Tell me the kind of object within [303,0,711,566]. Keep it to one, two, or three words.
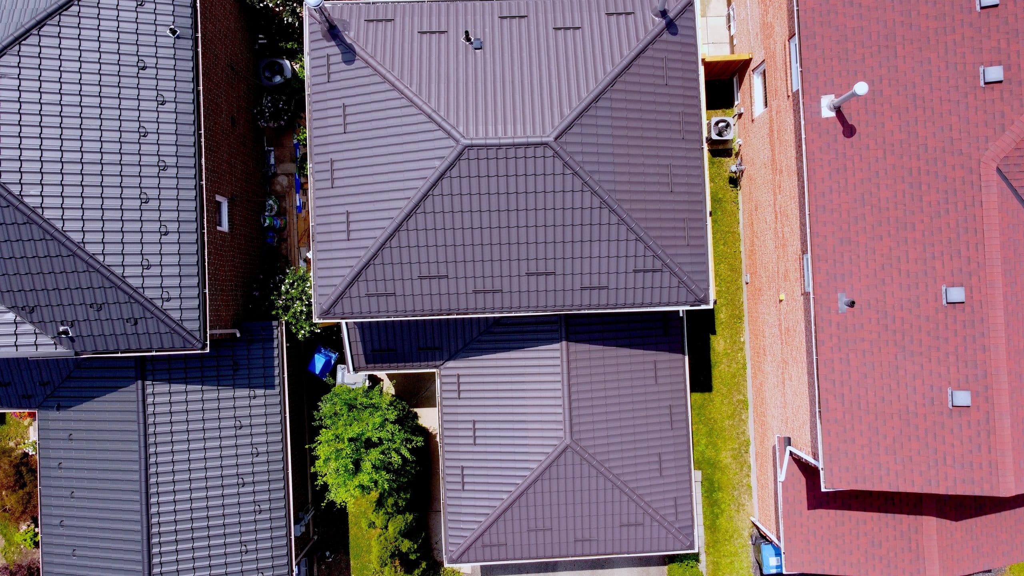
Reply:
house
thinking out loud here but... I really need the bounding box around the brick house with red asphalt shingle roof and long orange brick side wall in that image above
[724,0,1024,576]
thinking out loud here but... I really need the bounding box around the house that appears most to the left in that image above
[0,0,319,576]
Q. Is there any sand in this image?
No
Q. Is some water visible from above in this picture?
No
